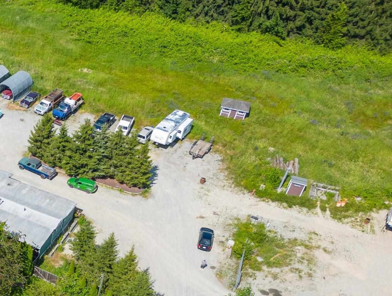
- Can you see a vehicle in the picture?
Yes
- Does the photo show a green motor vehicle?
Yes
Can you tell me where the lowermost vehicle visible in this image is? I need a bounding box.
[196,226,215,252]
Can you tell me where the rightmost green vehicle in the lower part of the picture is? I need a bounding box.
[66,177,97,194]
